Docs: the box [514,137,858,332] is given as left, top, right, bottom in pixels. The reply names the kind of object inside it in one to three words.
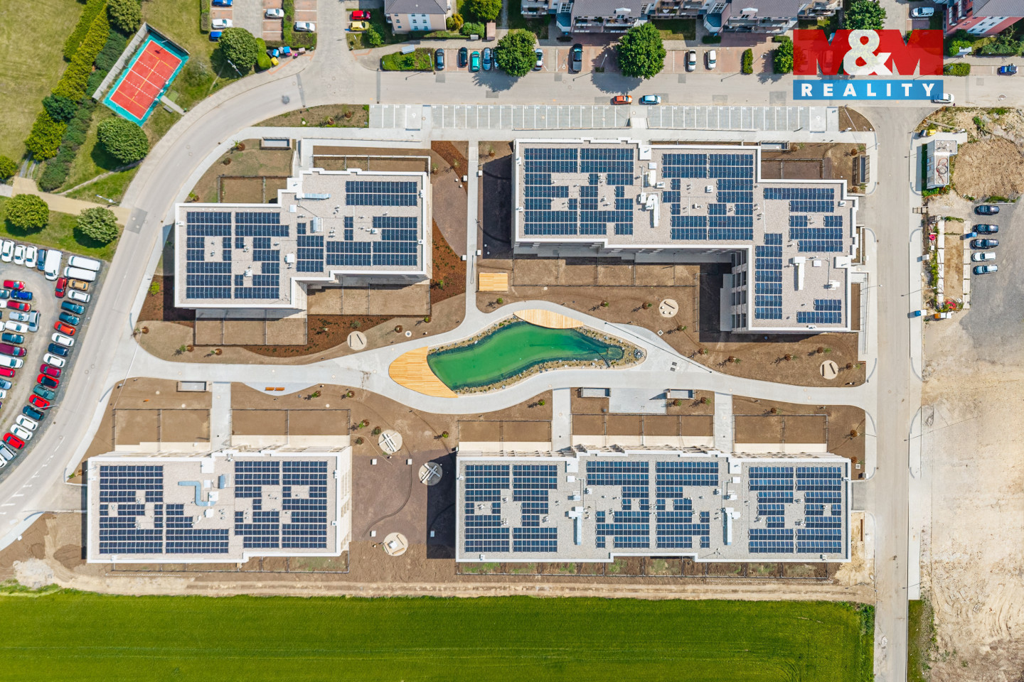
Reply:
building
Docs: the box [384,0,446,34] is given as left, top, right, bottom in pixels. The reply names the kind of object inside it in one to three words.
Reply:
house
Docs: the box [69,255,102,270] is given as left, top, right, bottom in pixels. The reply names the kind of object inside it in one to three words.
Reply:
vehicle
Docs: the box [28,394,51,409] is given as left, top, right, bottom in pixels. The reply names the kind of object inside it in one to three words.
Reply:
car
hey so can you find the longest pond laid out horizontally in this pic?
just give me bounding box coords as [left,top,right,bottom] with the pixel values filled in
[428,314,647,398]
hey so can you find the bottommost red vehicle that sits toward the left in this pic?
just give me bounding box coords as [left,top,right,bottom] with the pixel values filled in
[3,432,26,450]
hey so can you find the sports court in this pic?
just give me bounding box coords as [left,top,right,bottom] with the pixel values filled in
[91,23,189,125]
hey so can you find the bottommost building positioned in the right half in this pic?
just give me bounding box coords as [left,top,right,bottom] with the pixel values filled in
[456,442,851,562]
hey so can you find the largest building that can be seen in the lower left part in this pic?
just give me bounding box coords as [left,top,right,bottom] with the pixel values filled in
[87,443,353,563]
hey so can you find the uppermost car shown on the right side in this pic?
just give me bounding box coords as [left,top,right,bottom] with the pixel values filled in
[910,6,934,18]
